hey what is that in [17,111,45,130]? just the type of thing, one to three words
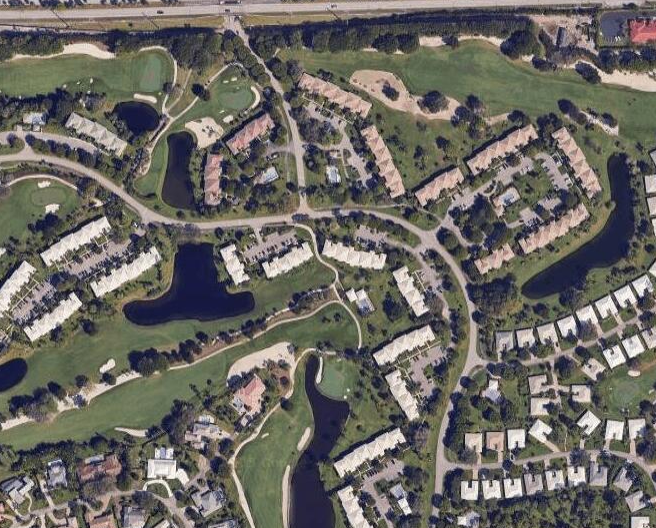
house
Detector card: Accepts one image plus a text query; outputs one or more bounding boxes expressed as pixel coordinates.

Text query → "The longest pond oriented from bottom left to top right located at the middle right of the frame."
[521,151,635,299]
